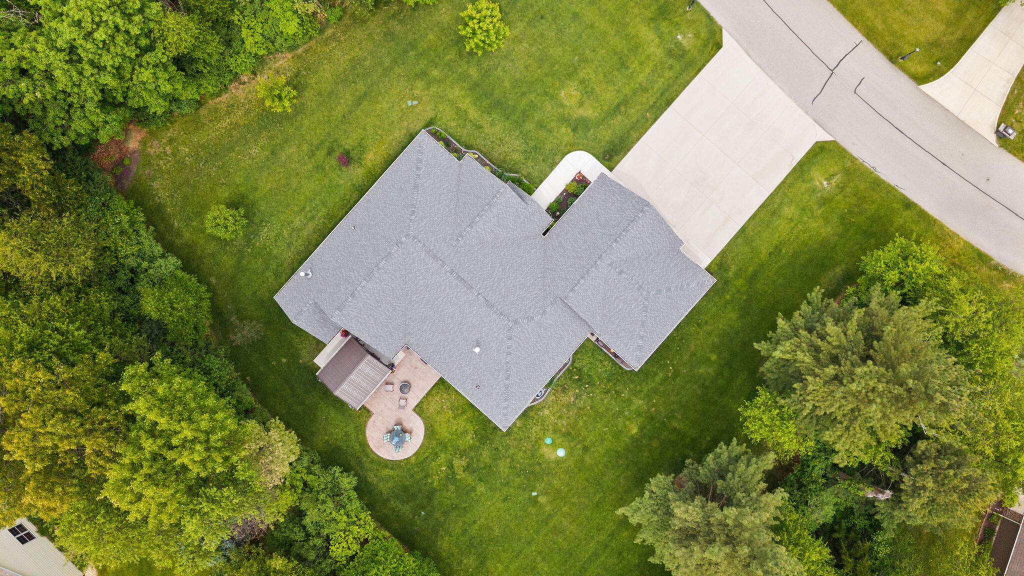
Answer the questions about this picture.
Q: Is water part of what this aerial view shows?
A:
No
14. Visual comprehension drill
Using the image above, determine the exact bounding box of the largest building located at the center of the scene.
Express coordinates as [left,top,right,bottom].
[273,130,718,432]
